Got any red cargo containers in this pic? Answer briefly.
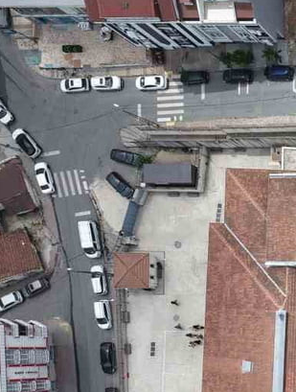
No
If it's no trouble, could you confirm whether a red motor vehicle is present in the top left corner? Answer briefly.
No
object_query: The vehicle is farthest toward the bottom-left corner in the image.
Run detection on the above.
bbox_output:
[0,289,28,313]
